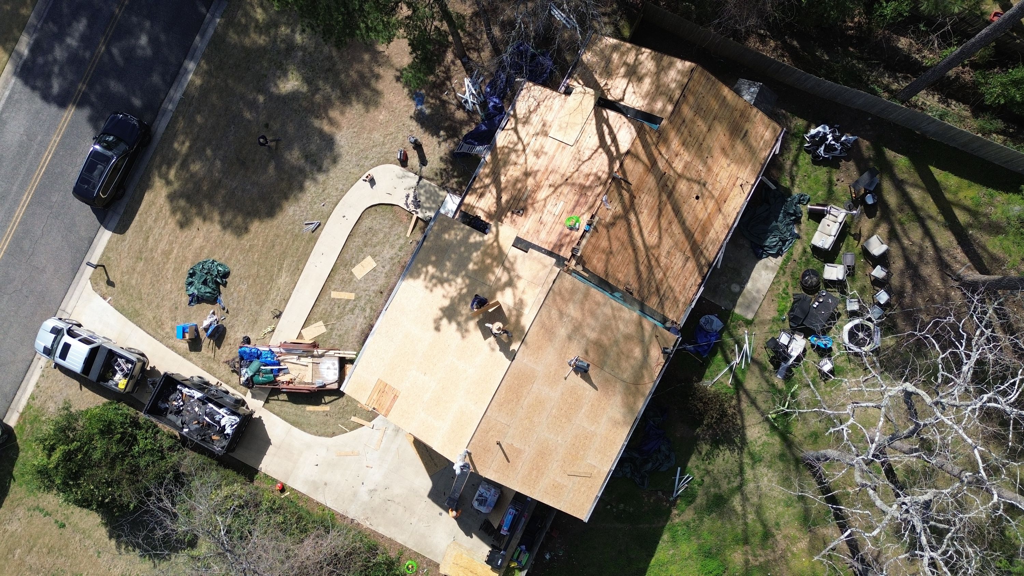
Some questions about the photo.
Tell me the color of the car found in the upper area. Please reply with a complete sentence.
The car found in the upper area is black.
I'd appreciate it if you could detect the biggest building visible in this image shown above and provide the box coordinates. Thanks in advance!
[338,31,788,524]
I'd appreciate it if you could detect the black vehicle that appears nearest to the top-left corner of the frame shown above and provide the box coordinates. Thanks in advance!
[72,118,146,214]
